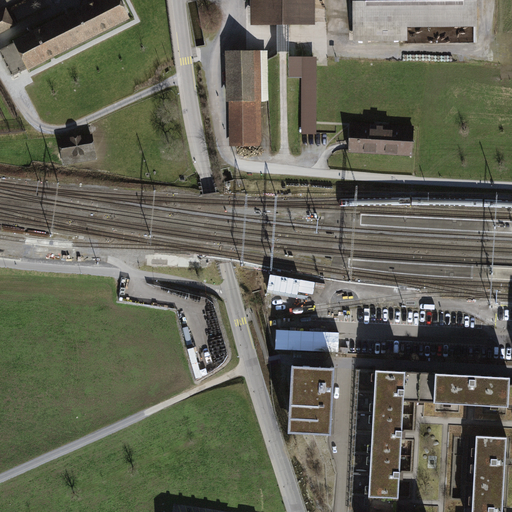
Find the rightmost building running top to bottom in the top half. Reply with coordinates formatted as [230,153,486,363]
[288,57,316,134]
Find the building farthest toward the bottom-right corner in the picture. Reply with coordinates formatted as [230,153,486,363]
[468,434,507,512]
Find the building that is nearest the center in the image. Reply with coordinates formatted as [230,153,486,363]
[268,275,314,300]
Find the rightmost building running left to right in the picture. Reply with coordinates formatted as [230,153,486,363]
[430,372,510,414]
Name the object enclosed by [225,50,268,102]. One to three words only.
barn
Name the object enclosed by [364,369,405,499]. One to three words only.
building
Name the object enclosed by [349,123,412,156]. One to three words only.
house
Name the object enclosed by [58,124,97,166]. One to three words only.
house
